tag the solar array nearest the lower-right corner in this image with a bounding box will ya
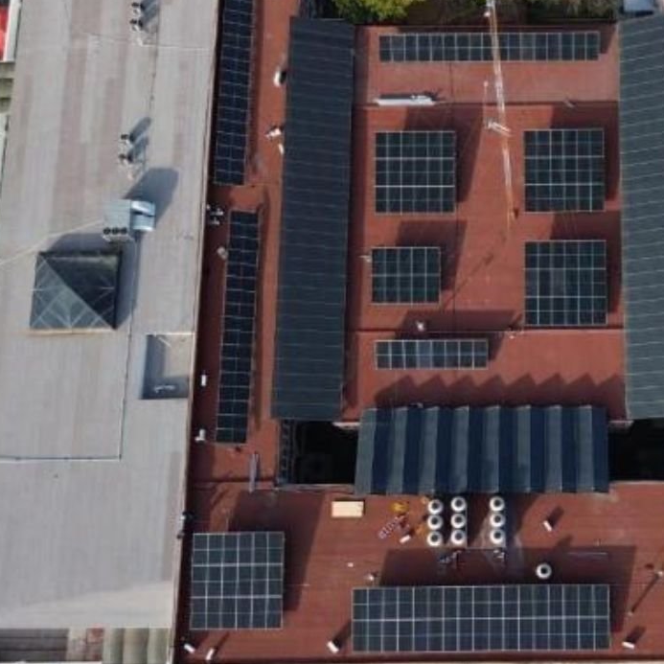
[352,580,609,653]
